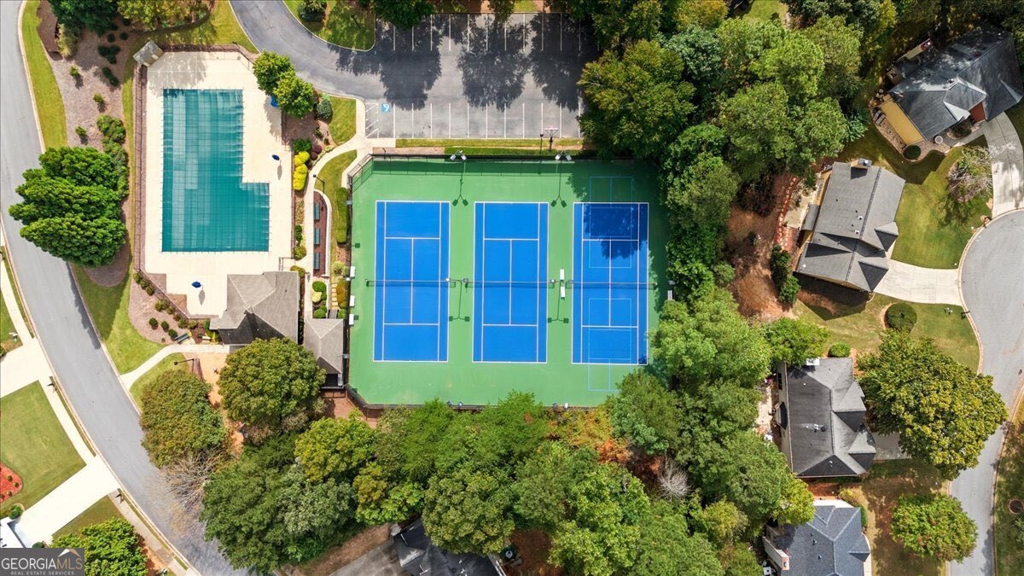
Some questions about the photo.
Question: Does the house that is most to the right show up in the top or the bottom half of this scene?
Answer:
top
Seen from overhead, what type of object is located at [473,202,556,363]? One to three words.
tennis court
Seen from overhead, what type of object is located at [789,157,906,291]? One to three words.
house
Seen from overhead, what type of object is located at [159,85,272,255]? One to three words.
swimming pool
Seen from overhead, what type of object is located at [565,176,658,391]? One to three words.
tennis court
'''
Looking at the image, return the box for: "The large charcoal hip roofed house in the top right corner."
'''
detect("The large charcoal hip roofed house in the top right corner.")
[865,16,1024,151]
